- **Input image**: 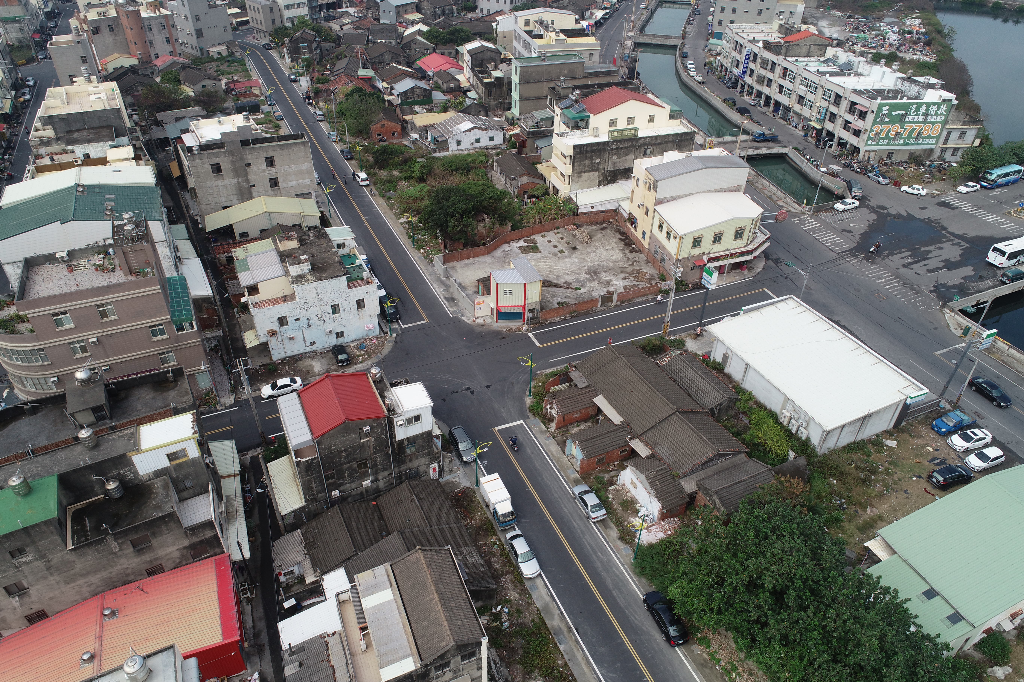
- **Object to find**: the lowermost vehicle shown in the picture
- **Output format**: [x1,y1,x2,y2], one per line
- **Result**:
[643,592,689,647]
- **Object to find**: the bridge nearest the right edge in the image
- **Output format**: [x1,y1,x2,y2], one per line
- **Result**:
[704,131,790,159]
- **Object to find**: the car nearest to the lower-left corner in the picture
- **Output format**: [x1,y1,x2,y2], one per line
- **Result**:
[259,377,304,402]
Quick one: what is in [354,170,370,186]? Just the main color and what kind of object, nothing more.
white car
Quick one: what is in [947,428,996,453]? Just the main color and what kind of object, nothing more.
white car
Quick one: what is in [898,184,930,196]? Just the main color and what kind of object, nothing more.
white vehicle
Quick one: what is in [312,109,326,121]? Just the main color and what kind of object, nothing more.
gray vehicle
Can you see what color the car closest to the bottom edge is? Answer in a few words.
black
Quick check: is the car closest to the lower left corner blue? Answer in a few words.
No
